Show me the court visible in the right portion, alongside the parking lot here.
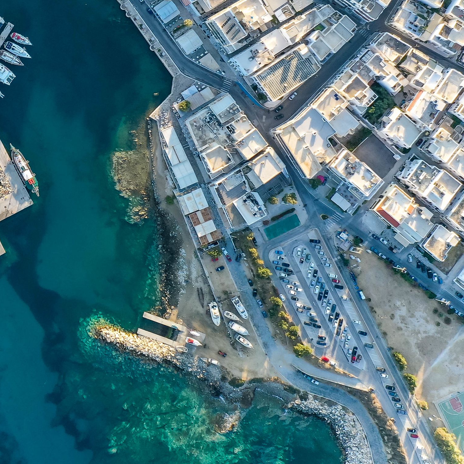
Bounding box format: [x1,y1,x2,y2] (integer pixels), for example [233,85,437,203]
[433,388,464,456]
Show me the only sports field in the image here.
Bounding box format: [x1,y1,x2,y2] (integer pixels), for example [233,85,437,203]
[260,211,307,241]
